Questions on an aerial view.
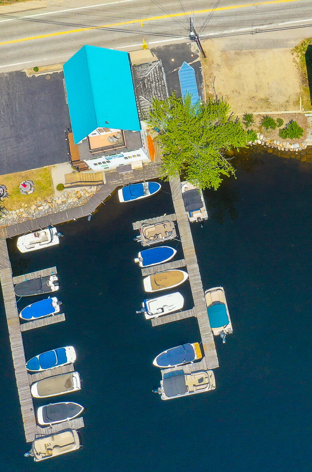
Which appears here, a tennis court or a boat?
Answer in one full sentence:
This aerial view contains a boat.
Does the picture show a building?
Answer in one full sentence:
Yes, a building is visible in the scene.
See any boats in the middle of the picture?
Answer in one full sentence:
Yes, a boat shows up in the middle of the picture.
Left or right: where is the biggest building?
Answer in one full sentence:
The biggest building is on the left side of the image.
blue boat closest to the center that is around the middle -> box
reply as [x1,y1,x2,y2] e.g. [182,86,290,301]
[134,246,178,267]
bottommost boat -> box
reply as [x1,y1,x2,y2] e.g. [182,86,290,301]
[26,426,82,462]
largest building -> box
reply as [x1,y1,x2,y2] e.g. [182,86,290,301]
[64,43,148,186]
